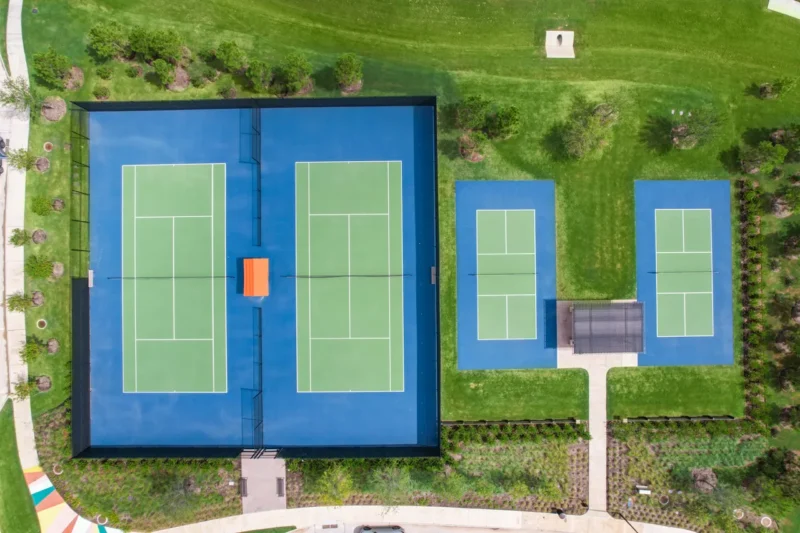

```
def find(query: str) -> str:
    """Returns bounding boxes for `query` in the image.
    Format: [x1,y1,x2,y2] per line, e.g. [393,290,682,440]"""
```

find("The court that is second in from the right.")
[455,180,557,370]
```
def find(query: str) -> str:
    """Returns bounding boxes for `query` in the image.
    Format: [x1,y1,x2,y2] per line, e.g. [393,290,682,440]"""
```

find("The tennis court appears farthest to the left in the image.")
[88,107,262,449]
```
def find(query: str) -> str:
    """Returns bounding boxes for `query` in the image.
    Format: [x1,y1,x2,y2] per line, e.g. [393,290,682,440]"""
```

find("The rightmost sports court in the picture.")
[635,180,734,366]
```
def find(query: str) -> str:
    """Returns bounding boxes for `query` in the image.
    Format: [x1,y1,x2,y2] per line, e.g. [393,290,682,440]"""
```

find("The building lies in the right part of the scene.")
[569,302,645,355]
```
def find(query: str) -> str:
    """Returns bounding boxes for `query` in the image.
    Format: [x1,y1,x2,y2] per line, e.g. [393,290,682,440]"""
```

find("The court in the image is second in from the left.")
[260,106,438,449]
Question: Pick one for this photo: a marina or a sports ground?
sports ground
